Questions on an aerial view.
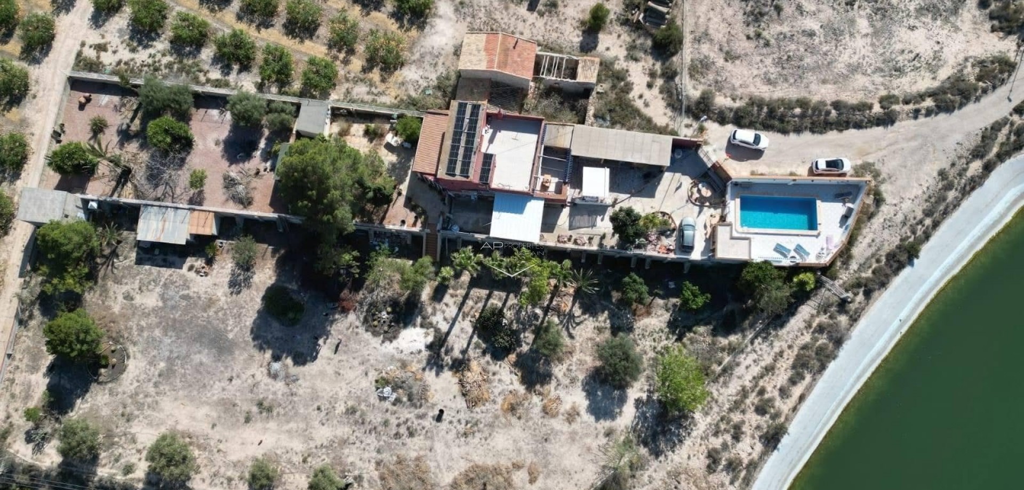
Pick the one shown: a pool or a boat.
pool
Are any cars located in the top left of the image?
No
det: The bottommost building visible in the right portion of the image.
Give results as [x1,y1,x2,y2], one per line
[714,223,753,261]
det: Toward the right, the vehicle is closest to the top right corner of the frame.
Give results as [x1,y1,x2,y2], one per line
[811,156,850,176]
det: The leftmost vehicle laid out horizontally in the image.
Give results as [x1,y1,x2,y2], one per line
[729,130,768,152]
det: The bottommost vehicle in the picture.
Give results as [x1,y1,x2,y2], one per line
[677,217,697,253]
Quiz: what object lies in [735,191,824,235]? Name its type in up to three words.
swimming pool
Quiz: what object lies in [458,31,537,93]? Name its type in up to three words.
barn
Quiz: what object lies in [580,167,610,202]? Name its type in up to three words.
gazebo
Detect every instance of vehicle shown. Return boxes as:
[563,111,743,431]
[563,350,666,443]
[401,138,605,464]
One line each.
[677,217,697,253]
[729,130,768,152]
[811,156,850,176]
